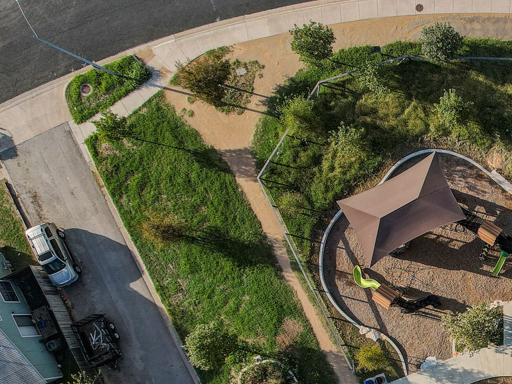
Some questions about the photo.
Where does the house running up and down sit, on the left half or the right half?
left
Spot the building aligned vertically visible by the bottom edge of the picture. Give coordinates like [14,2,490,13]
[0,241,63,384]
